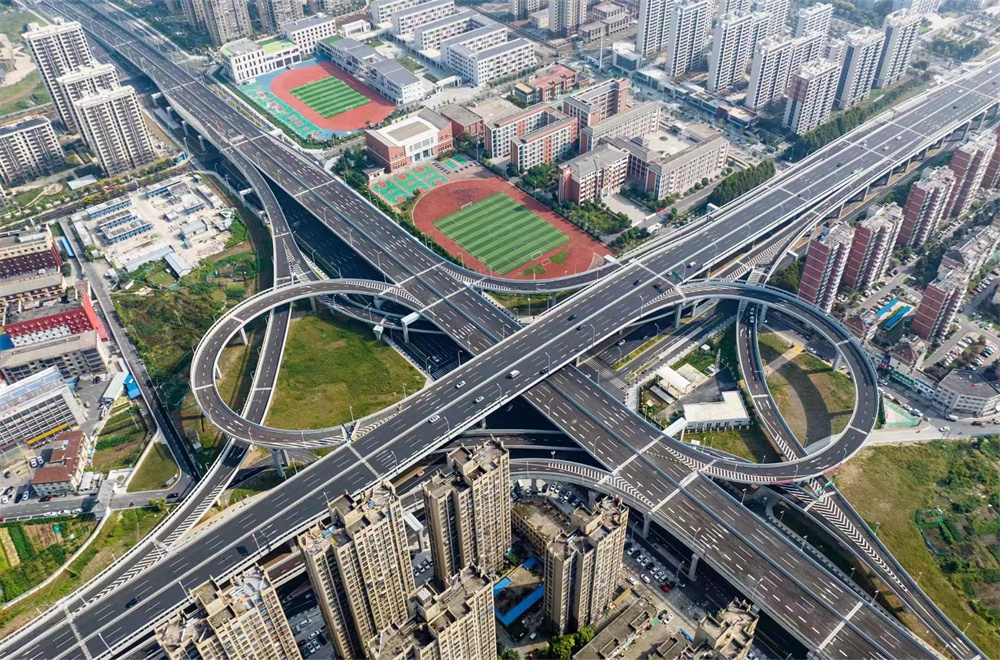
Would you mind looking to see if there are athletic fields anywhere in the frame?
Yes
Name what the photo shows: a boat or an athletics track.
athletics track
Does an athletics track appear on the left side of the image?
Yes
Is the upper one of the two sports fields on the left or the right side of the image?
left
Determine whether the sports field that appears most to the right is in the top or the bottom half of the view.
top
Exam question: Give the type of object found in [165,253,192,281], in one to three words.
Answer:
shed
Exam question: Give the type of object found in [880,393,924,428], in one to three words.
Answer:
sports court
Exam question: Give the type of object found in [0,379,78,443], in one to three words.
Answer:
building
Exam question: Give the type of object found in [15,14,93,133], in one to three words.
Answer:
building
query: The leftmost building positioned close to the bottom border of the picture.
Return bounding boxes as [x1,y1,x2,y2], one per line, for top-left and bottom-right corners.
[147,560,296,660]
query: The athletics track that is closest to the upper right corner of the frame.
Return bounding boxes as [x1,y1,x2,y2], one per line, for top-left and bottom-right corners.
[413,178,616,279]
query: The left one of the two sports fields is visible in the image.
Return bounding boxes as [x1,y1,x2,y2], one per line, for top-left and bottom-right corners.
[227,48,396,139]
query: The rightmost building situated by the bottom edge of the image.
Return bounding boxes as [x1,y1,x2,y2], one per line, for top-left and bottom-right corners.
[668,581,762,660]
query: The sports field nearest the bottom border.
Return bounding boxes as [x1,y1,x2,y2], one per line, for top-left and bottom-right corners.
[379,153,617,279]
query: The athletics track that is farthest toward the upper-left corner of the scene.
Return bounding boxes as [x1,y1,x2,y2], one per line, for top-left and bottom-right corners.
[271,60,396,131]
